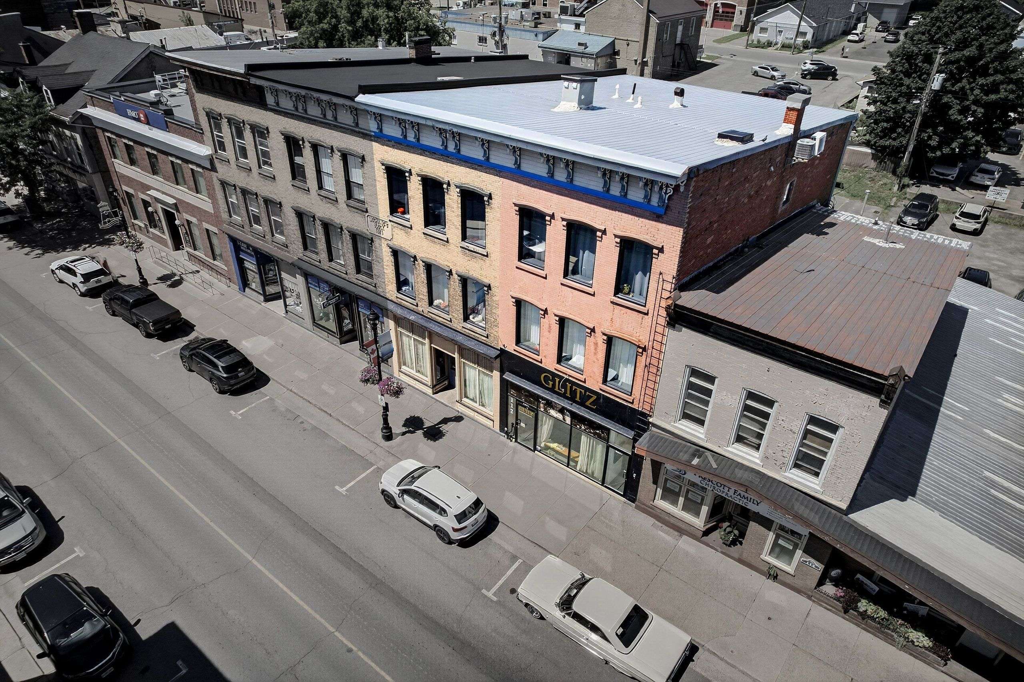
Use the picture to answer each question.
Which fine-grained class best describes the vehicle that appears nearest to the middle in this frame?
automobile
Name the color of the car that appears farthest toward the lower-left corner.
black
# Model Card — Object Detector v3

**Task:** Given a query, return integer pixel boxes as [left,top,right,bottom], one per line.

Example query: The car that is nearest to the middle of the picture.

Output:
[379,460,489,545]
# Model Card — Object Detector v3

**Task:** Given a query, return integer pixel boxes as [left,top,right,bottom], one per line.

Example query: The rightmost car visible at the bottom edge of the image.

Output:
[517,555,695,682]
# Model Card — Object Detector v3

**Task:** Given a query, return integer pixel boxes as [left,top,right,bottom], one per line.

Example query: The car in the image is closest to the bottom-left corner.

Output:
[10,565,142,682]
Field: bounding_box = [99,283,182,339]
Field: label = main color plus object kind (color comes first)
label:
black truck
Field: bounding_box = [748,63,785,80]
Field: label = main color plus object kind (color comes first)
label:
gray car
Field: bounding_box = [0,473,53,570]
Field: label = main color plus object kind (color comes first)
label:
gray car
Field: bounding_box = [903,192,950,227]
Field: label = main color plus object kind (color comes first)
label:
black car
